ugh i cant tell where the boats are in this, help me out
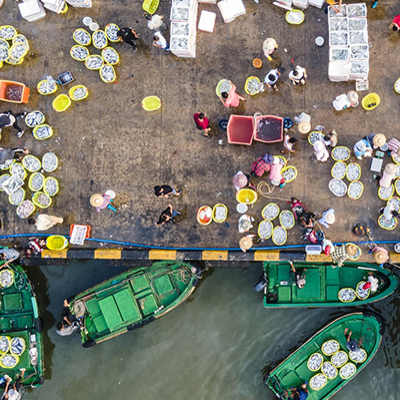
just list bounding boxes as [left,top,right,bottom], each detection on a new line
[252,264,399,308]
[0,259,44,389]
[267,312,385,400]
[61,265,201,353]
